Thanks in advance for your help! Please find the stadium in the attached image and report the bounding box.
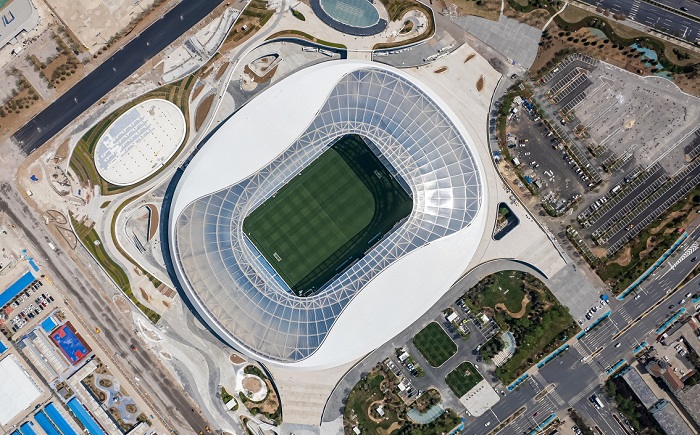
[167,59,489,367]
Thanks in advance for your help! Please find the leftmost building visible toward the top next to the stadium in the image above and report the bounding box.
[94,98,189,185]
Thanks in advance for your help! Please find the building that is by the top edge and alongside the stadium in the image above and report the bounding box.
[310,0,387,36]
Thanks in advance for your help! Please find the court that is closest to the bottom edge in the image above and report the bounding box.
[49,321,91,365]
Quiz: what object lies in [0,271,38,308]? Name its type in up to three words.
shed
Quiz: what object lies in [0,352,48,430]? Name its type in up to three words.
building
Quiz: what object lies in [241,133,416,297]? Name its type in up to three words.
soccer field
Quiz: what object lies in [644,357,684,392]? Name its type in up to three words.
house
